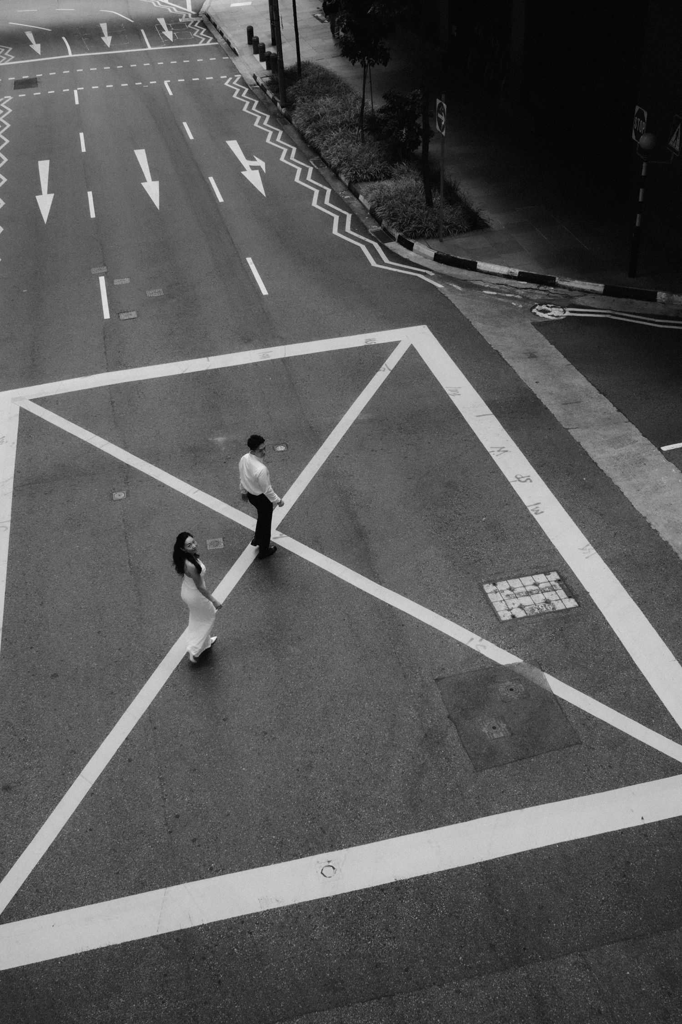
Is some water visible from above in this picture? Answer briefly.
No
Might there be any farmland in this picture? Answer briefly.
No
